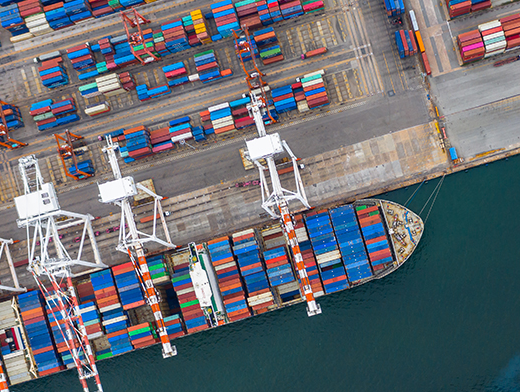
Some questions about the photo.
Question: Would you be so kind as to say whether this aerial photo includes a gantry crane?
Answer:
Yes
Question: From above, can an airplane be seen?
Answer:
No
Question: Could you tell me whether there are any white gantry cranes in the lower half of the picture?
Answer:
Yes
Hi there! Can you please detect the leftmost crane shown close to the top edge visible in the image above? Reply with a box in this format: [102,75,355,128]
[121,5,162,66]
